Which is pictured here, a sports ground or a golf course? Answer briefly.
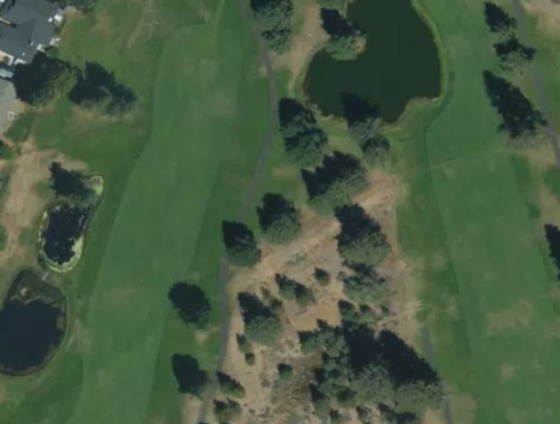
golf course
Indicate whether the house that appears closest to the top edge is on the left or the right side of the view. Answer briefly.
left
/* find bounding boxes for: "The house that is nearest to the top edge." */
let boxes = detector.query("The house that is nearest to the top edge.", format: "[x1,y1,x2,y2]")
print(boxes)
[0,0,57,62]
